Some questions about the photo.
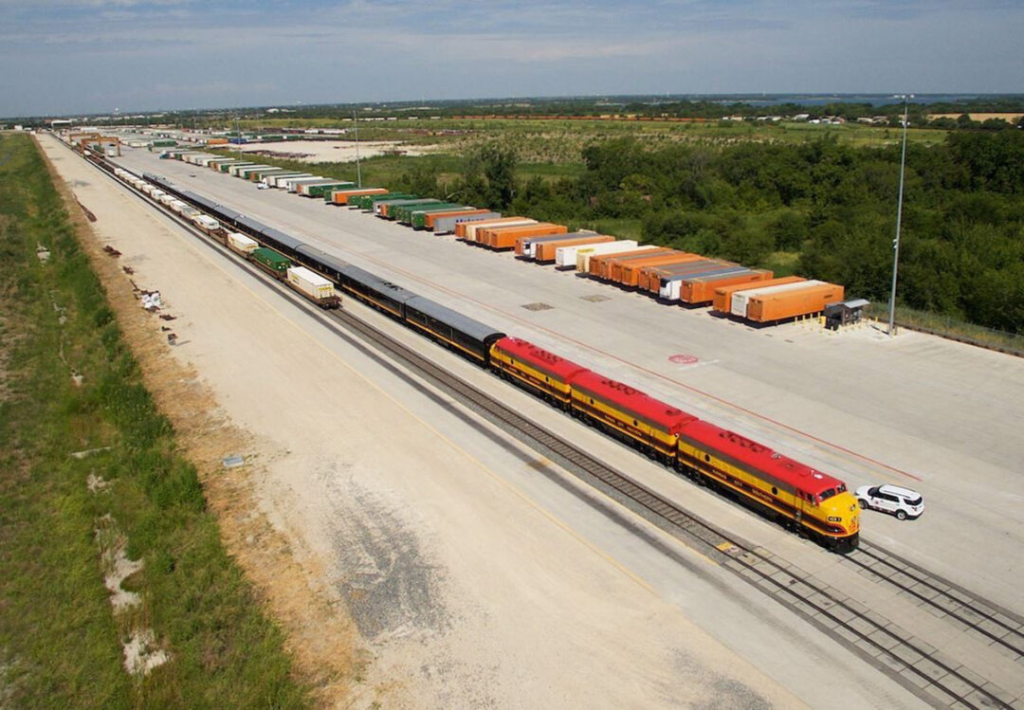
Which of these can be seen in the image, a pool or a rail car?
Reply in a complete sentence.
Visible in the photo is a rail car.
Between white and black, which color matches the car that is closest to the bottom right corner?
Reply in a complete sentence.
In this view, the car that is closest to the bottom right corner is white.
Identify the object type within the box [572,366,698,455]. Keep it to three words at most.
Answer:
rail car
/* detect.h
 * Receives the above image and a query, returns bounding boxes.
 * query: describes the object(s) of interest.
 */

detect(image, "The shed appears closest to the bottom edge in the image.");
[821,297,873,331]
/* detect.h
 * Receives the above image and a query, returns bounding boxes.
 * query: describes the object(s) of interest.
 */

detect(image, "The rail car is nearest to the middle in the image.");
[499,335,591,402]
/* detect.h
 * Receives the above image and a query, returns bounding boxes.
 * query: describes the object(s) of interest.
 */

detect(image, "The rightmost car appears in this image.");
[856,487,926,522]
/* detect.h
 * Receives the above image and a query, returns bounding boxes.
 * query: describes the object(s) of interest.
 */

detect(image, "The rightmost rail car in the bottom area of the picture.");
[676,414,858,545]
